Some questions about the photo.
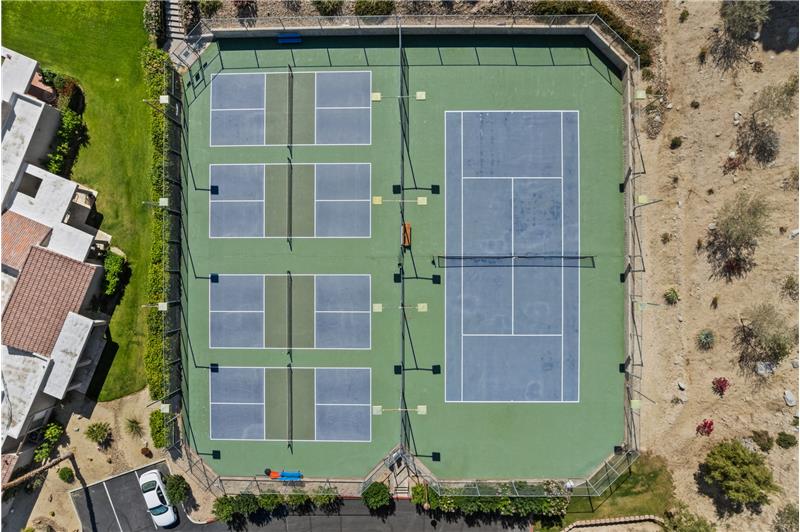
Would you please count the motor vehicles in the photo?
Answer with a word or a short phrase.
1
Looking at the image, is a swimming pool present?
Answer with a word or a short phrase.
No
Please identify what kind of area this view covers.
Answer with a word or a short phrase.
sports ground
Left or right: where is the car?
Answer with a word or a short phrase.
left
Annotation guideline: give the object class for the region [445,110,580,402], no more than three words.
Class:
tennis court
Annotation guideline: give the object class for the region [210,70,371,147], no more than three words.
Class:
sports court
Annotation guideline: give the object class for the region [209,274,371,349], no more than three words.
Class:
sports court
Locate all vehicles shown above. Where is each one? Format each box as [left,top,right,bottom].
[140,470,178,529]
